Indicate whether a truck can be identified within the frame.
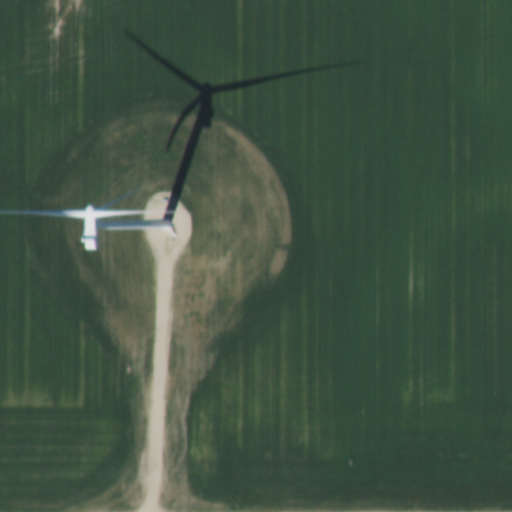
No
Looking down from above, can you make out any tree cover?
No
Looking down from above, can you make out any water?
No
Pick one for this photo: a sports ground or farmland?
farmland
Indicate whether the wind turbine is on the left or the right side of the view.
left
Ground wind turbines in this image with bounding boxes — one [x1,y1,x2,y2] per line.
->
[0,190,217,250]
